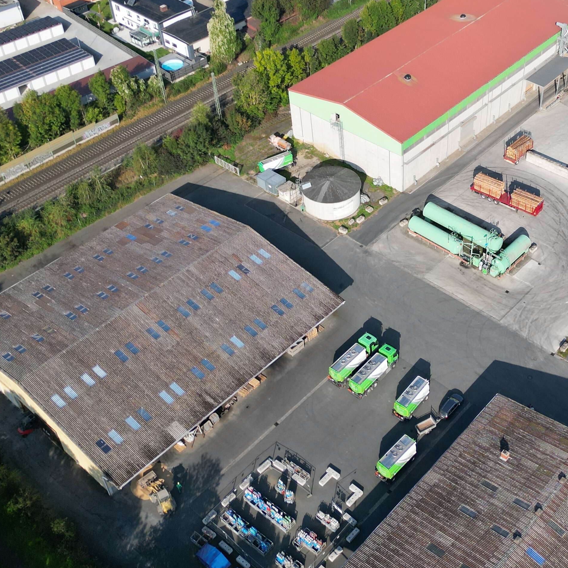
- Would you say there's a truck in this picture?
Yes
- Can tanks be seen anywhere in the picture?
Yes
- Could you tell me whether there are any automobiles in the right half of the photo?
Yes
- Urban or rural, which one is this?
urban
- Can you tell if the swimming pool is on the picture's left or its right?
left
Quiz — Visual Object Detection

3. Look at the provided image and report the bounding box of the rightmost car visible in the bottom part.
[437,393,466,422]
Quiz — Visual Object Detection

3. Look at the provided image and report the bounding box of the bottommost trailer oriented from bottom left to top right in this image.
[374,432,417,484]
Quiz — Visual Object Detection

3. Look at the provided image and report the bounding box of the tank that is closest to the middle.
[299,174,355,225]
